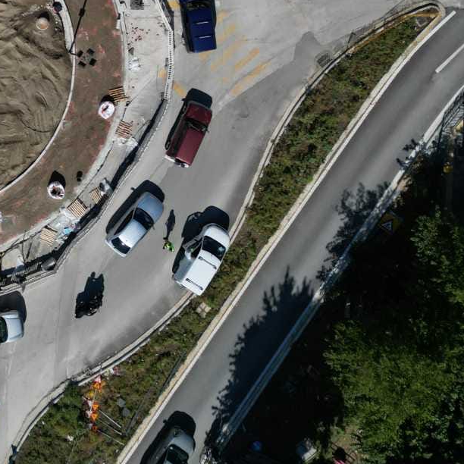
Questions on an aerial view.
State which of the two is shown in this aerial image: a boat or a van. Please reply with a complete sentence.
Of the two, only a van appears.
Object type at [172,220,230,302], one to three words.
van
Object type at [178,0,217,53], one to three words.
car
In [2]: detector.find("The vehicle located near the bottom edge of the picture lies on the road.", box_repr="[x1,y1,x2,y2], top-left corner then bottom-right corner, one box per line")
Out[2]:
[141,411,198,464]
